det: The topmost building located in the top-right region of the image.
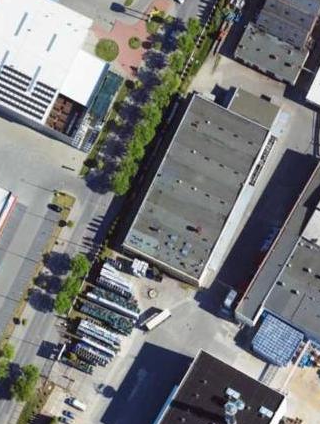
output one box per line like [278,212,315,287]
[251,0,320,56]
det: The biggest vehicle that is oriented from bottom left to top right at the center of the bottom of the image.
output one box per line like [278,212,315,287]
[145,312,174,332]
